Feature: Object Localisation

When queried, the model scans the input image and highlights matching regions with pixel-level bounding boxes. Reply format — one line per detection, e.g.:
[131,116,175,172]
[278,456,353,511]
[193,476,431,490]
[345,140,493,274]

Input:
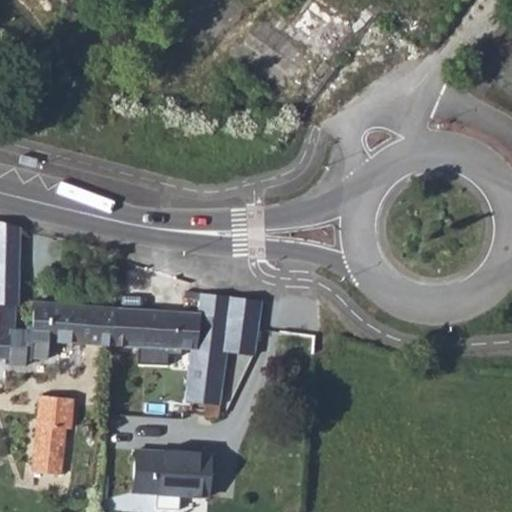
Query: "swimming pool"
[144,402,168,416]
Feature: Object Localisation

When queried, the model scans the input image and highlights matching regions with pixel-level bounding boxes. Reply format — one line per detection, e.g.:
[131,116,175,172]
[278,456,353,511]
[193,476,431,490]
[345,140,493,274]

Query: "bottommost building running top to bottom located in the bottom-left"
[30,396,74,475]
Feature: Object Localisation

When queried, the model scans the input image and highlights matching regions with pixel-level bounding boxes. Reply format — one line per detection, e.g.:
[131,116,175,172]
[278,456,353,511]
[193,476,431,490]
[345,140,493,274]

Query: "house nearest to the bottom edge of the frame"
[132,450,213,498]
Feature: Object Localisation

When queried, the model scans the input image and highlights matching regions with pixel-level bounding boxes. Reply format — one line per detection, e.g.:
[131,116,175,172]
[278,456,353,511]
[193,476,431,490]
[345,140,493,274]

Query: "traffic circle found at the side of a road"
[343,129,512,326]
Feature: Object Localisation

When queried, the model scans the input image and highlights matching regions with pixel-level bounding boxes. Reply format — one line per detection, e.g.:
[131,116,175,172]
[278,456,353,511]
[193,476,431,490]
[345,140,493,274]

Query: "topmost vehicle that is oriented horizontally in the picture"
[17,154,46,169]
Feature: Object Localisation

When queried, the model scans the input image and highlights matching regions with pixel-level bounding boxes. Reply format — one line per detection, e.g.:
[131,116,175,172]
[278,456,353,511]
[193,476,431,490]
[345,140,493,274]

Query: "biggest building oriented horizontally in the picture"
[32,302,200,367]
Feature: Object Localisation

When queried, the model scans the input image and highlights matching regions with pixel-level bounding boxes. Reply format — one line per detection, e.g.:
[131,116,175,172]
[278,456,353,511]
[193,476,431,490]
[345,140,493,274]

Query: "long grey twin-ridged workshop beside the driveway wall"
[184,294,264,420]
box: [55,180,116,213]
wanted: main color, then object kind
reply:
white bus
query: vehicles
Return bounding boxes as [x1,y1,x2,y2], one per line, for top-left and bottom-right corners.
[55,180,116,213]
[138,426,163,437]
[190,216,210,226]
[144,212,167,222]
[112,432,132,442]
[17,154,46,169]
